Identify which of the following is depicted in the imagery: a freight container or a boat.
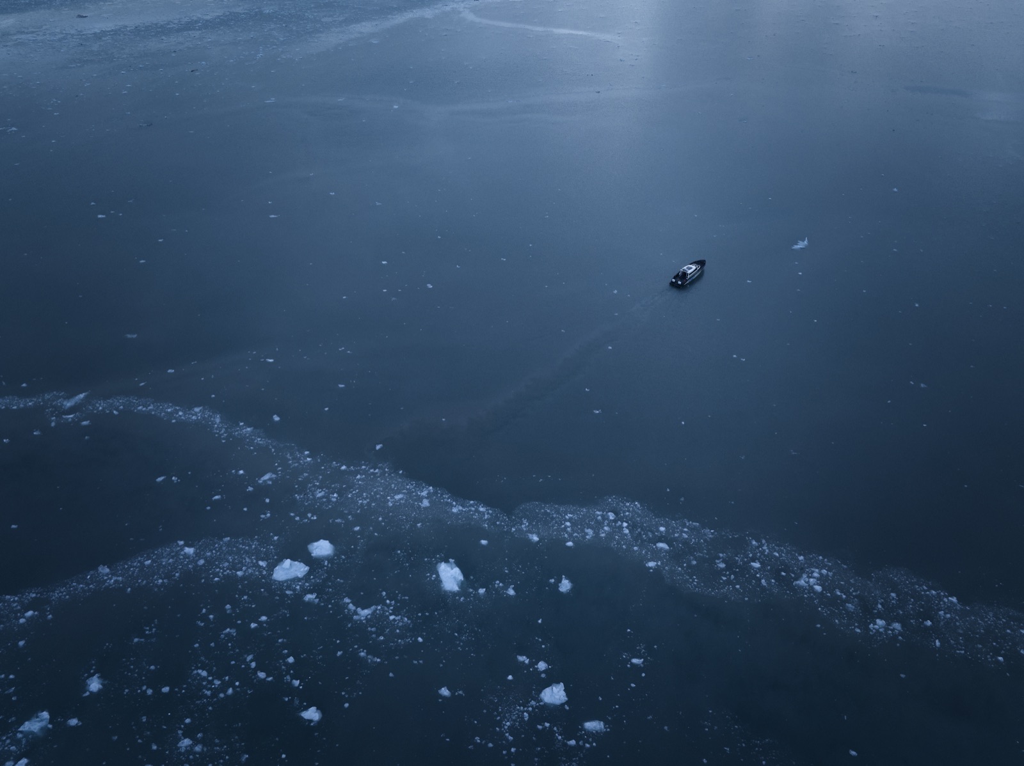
boat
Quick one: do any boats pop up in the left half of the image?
No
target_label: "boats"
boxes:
[670,260,707,289]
